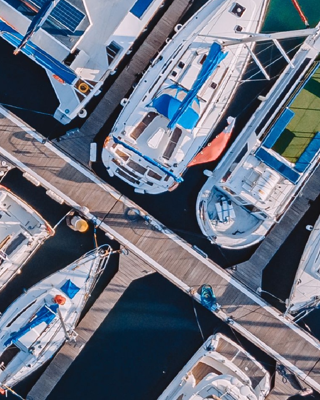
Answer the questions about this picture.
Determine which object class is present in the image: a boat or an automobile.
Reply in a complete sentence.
Looking from above, you can make out a boat.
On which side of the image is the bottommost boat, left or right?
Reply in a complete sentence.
The bottommost boat sits on the right side.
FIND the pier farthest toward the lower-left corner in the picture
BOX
[21,245,155,400]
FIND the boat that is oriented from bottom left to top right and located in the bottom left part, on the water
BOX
[0,246,117,394]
